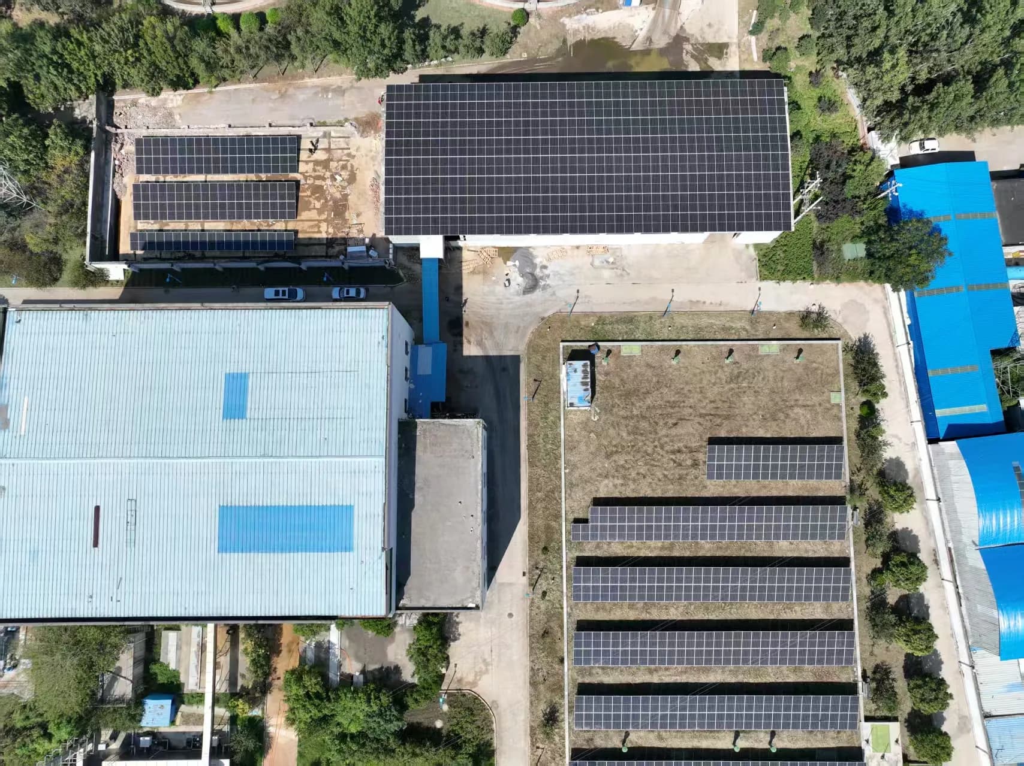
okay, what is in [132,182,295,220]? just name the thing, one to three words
solar array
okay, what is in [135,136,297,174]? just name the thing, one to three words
solar array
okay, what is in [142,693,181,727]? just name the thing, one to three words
shed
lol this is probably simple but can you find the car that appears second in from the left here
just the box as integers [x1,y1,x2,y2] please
[331,285,365,301]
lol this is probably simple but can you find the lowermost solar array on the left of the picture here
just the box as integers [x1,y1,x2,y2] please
[130,232,294,251]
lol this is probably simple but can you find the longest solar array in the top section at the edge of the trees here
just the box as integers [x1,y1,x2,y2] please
[384,79,791,235]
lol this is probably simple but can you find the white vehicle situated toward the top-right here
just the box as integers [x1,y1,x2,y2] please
[909,136,944,154]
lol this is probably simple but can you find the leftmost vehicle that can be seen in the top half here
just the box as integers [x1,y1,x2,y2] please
[263,285,304,301]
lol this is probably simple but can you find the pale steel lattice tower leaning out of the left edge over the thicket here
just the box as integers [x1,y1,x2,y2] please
[0,177,26,201]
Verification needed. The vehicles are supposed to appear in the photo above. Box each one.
[331,285,365,301]
[909,136,944,154]
[263,285,304,301]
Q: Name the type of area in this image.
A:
industrial area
